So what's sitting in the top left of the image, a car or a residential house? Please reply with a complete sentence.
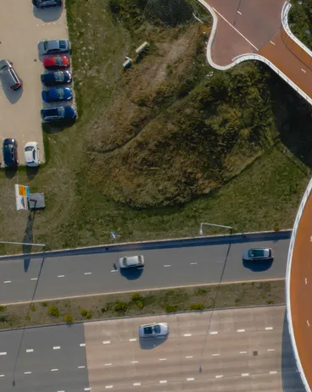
It is a car that can be seen in the top left of the image.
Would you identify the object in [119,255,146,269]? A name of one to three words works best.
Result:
vehicle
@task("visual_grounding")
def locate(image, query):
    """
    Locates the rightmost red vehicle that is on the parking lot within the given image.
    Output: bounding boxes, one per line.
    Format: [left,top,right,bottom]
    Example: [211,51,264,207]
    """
[42,54,72,69]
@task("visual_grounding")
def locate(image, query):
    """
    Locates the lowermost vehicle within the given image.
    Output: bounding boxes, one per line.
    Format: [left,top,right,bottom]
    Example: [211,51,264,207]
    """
[138,323,172,337]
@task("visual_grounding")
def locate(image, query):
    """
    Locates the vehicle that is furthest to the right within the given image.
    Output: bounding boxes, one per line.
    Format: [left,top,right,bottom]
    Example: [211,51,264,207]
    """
[243,247,276,262]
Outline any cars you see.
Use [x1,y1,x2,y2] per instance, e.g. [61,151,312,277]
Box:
[138,323,172,337]
[39,87,74,102]
[33,0,65,8]
[40,107,79,122]
[40,70,74,86]
[1,138,19,168]
[243,247,276,262]
[119,255,146,269]
[24,140,42,167]
[42,54,72,69]
[38,38,73,54]
[0,59,22,92]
